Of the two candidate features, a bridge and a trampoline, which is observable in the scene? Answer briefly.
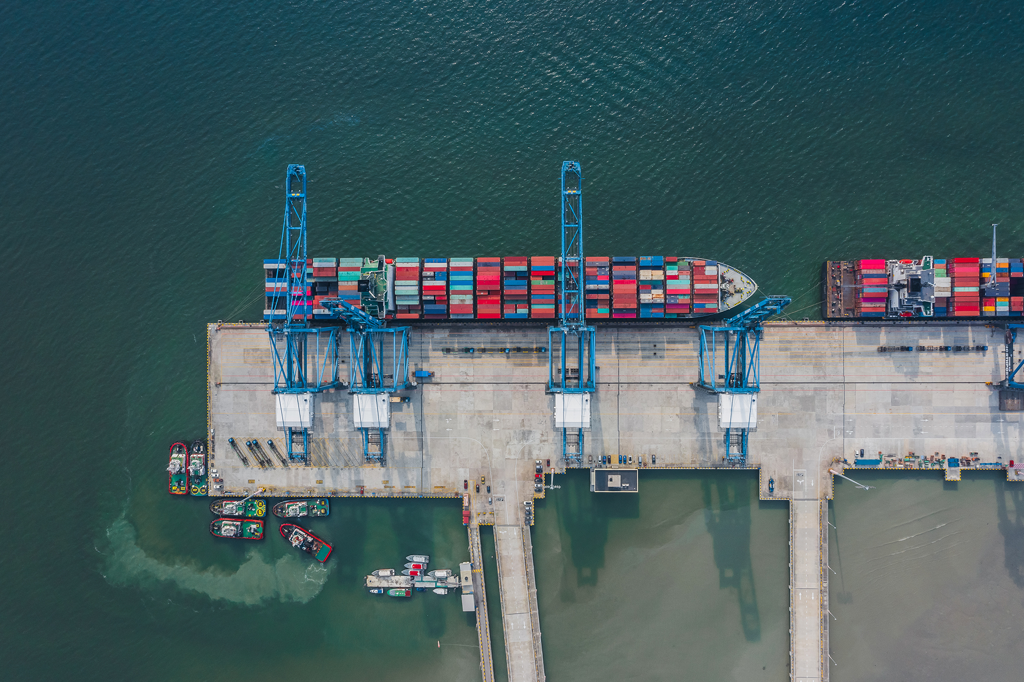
bridge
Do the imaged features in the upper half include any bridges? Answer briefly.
No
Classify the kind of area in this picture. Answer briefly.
port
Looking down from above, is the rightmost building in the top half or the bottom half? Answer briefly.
bottom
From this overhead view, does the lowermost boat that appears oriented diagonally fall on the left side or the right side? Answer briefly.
left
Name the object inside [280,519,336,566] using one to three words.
boat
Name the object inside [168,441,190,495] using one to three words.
boat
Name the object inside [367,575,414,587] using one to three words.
pier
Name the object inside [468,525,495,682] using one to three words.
pier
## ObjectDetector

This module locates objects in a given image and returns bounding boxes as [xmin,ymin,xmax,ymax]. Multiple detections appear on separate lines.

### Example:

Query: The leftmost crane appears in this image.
[262,162,347,462]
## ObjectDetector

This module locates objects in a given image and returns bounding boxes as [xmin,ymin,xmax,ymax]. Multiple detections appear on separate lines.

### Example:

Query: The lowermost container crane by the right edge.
[995,327,1024,389]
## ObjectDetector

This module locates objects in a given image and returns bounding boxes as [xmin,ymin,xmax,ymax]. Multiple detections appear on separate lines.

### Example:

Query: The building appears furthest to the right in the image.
[590,467,638,492]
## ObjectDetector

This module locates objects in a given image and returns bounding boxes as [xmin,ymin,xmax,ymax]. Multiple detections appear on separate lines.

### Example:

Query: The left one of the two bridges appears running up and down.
[492,525,545,682]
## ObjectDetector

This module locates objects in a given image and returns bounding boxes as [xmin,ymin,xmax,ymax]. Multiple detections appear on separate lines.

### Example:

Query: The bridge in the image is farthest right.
[787,499,830,682]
